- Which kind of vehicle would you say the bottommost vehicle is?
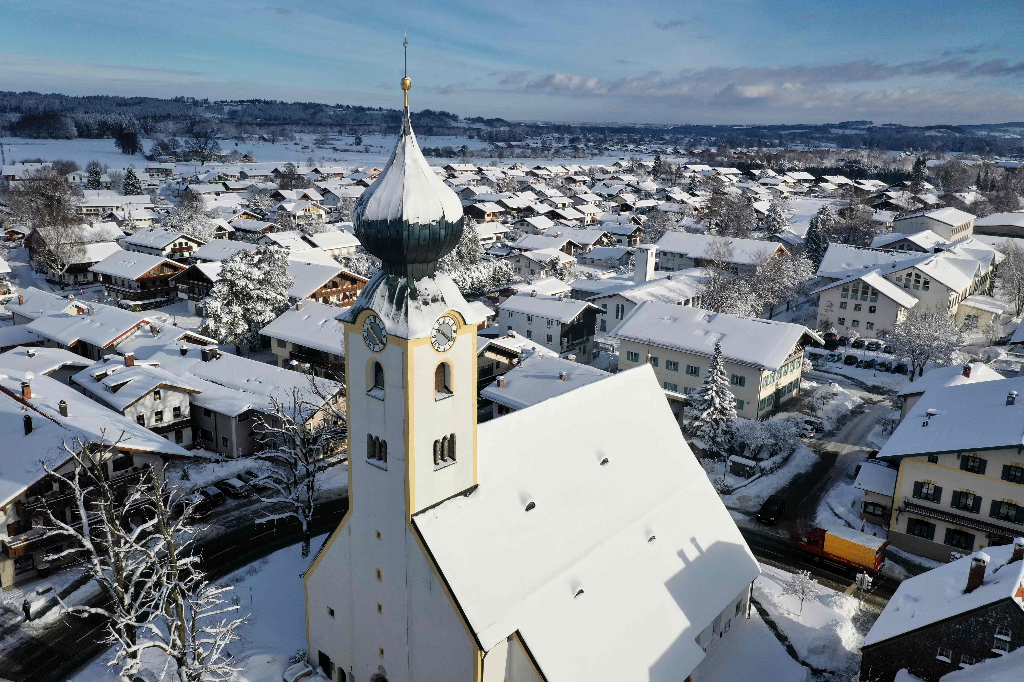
truck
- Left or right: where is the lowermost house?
right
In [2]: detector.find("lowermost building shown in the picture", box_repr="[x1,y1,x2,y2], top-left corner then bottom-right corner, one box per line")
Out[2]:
[859,525,1024,682]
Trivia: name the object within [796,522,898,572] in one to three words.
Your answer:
truck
